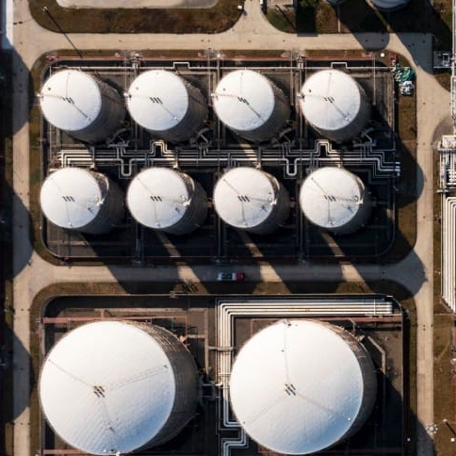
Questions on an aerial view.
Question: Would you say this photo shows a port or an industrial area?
industrial area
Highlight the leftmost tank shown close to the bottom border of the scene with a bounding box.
[39,318,198,456]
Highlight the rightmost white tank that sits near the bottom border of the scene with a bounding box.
[229,313,379,456]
